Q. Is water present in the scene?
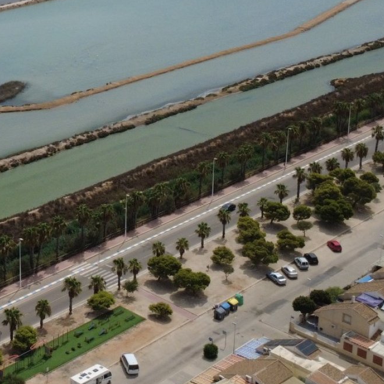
Yes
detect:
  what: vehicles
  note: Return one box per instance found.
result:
[300,252,324,267]
[265,273,290,288]
[290,256,314,273]
[323,241,346,253]
[69,360,112,384]
[277,265,302,280]
[120,353,141,375]
[218,203,237,213]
